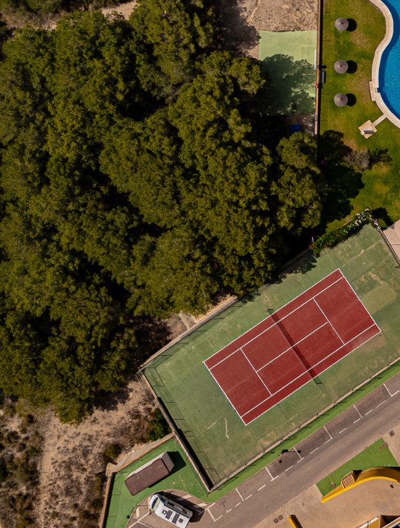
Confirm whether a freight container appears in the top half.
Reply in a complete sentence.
No, no freight container can be made out in the top half.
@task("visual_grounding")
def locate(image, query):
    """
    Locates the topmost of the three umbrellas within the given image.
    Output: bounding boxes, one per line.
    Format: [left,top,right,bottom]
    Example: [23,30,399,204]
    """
[334,17,348,31]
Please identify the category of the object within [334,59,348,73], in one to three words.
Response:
umbrella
